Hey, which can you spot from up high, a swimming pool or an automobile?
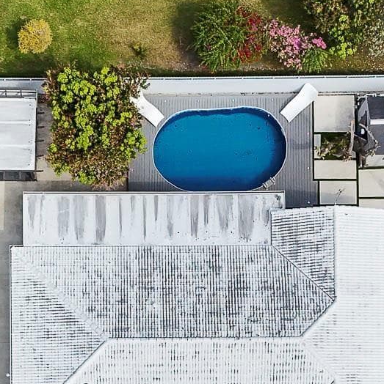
swimming pool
